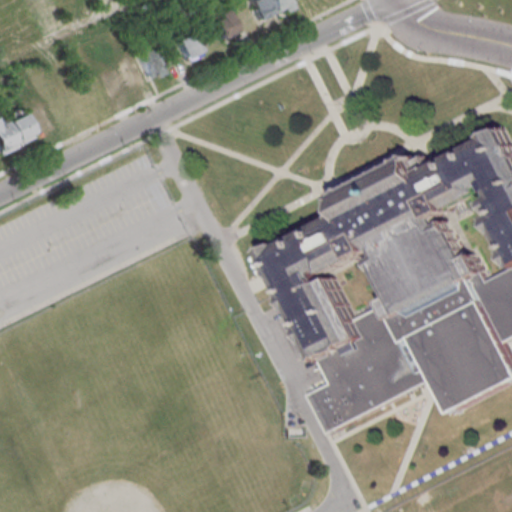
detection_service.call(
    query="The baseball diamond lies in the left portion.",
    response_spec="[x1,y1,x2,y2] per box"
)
[0,243,307,512]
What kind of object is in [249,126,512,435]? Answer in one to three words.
building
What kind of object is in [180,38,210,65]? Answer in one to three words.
house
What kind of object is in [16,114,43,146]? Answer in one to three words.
house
